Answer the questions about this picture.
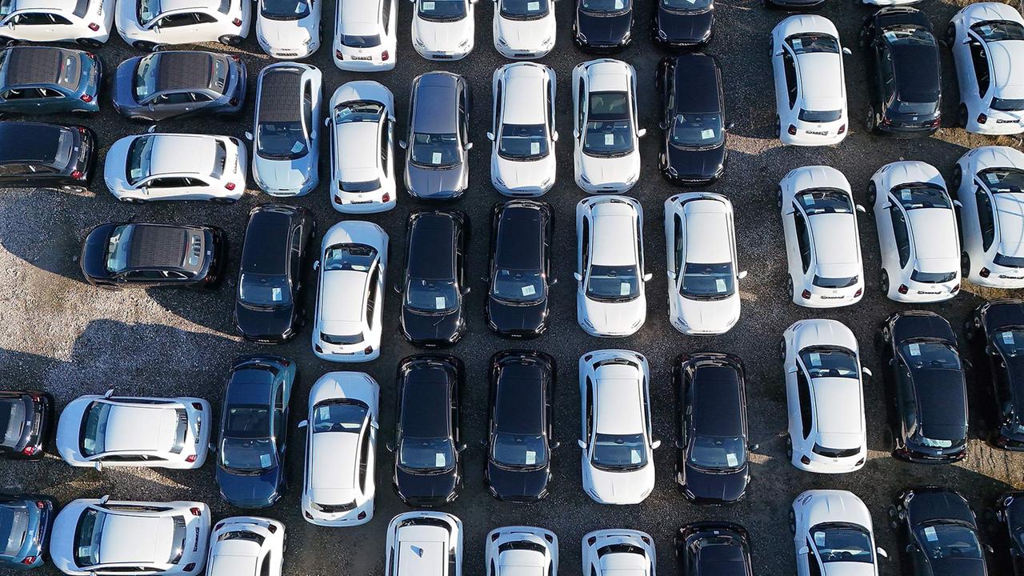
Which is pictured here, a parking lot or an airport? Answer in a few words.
parking lot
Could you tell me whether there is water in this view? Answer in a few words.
No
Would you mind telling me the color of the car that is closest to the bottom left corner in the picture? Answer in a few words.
blue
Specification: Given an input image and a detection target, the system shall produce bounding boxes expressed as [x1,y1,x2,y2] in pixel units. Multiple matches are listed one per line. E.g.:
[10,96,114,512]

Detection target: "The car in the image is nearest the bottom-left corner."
[0,494,55,569]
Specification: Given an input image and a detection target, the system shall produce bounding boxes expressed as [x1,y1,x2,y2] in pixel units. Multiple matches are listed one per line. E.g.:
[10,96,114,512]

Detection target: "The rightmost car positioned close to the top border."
[948,5,1024,134]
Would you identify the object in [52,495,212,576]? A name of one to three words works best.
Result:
car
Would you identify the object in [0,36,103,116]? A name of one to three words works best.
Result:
car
